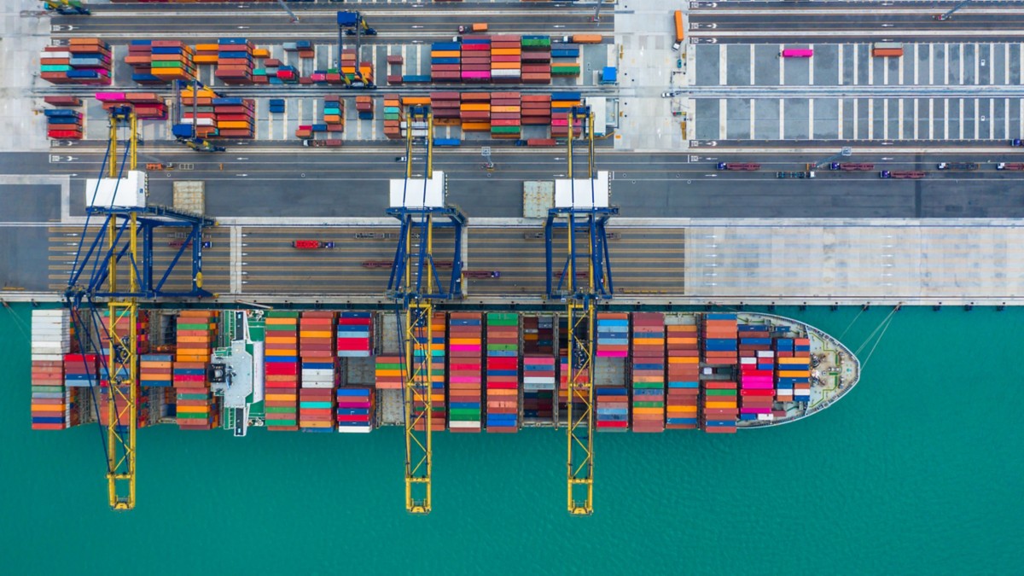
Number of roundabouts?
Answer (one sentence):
The picture shows no roundabouts.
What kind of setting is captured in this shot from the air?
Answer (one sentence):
The area seen from above is a port.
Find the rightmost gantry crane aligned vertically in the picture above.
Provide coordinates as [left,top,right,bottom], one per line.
[541,102,619,517]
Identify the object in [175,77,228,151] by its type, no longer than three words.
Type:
crane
